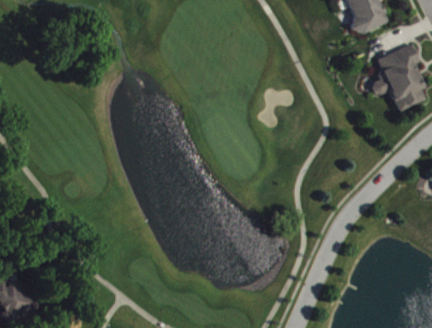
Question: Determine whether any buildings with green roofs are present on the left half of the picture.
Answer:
No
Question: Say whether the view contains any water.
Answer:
Yes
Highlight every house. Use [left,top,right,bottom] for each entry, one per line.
[0,282,34,317]
[352,0,390,32]
[378,42,431,106]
